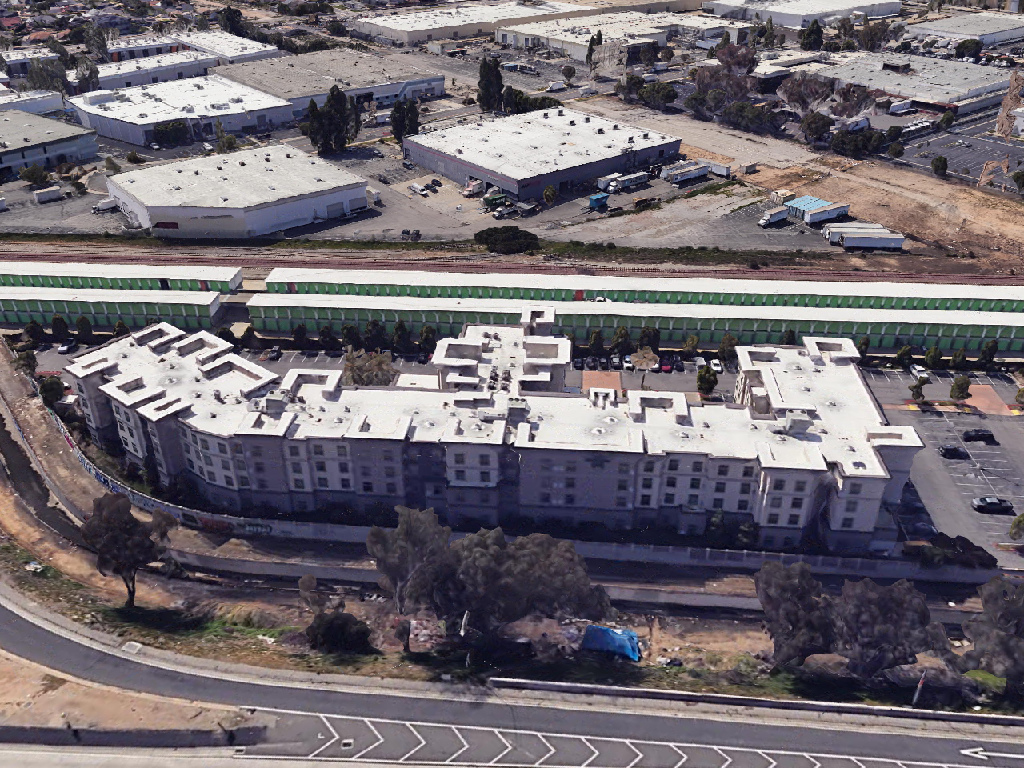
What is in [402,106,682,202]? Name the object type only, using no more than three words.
building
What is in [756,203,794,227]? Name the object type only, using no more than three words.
truck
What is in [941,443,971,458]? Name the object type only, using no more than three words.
car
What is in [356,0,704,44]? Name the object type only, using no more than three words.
building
